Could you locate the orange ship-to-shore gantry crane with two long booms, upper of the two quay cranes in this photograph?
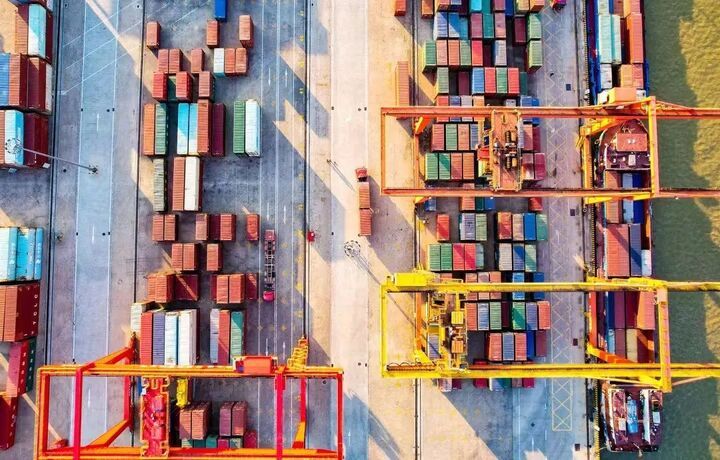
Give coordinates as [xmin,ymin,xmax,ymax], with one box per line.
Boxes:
[381,82,720,215]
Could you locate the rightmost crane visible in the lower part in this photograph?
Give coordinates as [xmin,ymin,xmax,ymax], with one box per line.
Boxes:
[380,269,720,392]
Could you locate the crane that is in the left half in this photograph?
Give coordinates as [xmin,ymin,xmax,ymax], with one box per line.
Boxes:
[23,333,343,460]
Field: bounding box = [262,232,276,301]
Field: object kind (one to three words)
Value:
vehicle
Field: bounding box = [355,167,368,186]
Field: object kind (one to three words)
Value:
vehicle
